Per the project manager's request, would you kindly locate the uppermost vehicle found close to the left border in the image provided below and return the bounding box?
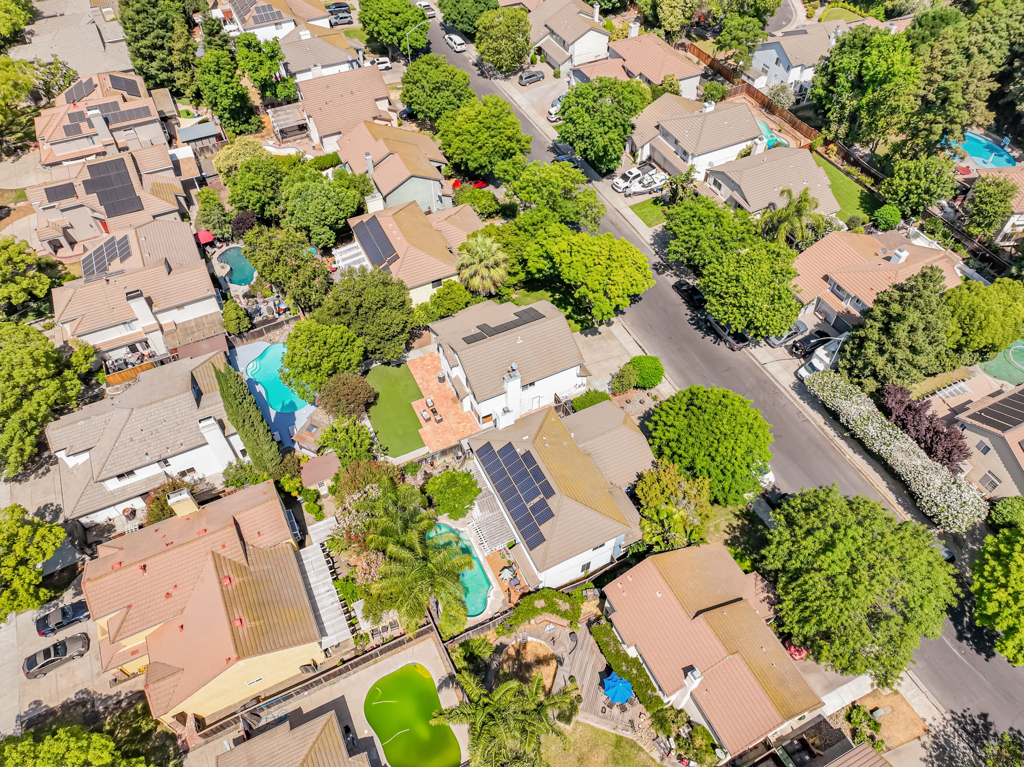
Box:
[33,599,92,636]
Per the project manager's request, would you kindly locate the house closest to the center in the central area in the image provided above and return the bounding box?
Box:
[428,300,592,427]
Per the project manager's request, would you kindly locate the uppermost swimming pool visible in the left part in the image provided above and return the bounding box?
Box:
[265,144,316,170]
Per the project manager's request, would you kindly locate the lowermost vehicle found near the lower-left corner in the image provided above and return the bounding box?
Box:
[22,632,88,679]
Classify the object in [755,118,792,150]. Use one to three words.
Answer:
swimming pool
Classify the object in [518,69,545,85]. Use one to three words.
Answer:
car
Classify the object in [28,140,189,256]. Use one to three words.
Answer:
house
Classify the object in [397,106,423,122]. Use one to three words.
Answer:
car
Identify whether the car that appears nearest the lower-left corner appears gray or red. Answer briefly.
gray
